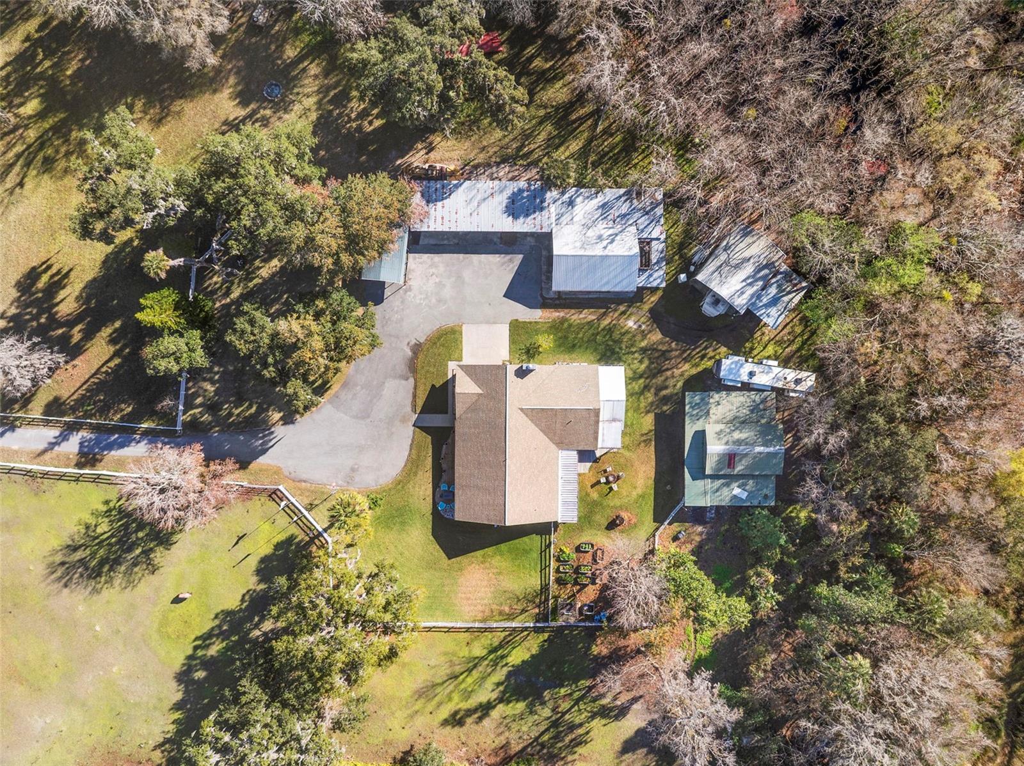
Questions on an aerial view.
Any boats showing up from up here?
Yes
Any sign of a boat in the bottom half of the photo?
No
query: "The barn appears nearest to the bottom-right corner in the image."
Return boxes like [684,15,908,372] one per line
[680,391,787,507]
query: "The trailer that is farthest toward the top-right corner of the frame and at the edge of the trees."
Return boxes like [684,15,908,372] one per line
[702,356,819,397]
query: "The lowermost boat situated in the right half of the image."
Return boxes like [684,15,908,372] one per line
[699,291,731,322]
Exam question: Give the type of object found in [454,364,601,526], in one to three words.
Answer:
house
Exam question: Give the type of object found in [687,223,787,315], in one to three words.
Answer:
shed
